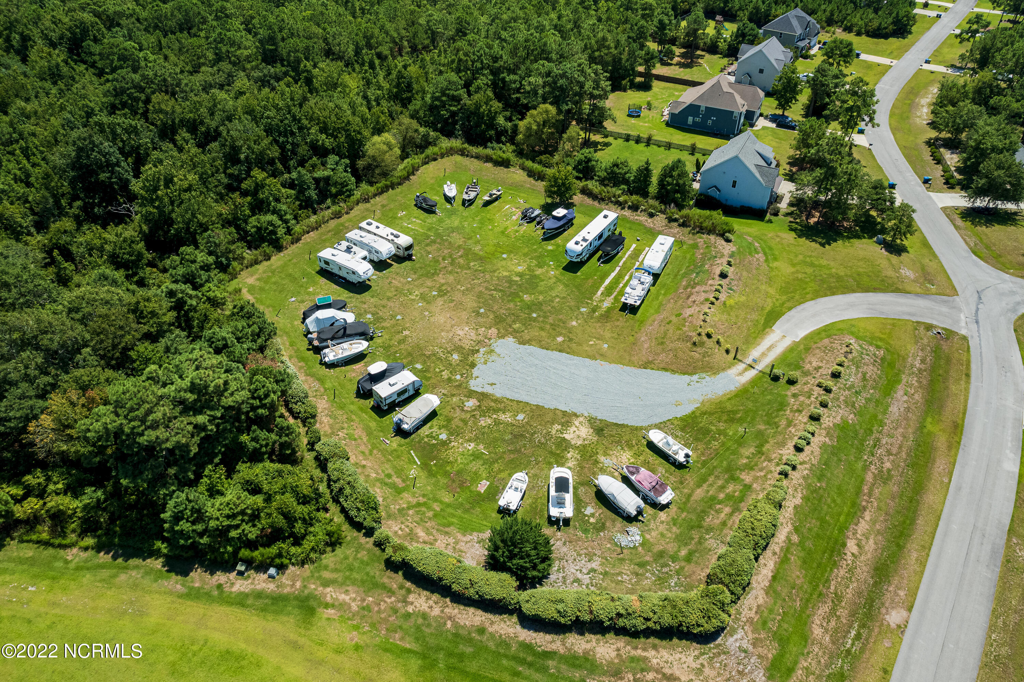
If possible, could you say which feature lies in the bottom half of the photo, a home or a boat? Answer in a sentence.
You can see a boat in the bottom half of the photo.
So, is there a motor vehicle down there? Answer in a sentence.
Yes, the frame does contain a motor vehicle.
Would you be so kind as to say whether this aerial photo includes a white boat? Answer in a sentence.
Yes, there is a white boat in the image.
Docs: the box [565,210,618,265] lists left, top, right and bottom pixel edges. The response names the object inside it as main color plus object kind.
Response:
white camper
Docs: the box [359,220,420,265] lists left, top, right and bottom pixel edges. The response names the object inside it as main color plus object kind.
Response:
white vehicle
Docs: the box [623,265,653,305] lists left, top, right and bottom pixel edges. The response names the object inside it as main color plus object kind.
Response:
white boat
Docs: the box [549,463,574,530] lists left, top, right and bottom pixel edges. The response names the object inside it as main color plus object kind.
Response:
white boat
